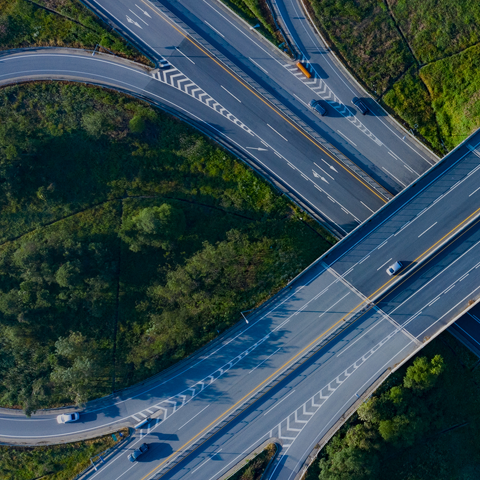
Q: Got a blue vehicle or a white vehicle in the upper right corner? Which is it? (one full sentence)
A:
Looking in the upper right corner, you will find a blue vehicle.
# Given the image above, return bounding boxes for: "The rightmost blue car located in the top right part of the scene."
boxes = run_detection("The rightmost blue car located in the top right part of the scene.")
[351,95,370,118]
